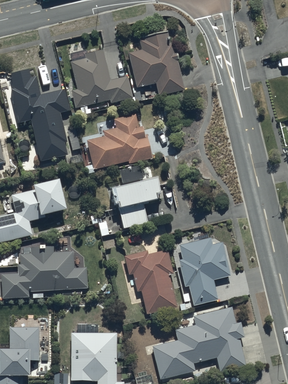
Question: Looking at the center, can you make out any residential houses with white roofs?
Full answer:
Yes, you'll find a residential house with a white roof at the center.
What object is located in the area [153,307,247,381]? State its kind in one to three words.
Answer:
house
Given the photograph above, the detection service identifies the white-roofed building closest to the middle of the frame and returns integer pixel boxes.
[110,176,162,229]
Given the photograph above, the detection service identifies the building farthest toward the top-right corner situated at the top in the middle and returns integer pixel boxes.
[129,31,183,94]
